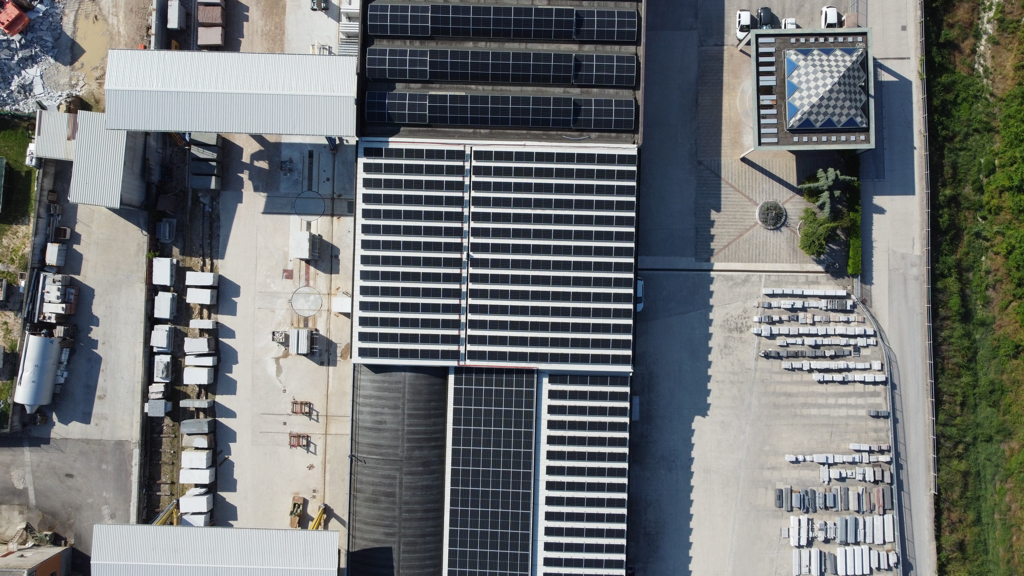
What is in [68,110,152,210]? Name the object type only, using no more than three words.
shed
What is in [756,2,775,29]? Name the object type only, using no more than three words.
car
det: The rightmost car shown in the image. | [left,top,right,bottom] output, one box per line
[822,3,841,28]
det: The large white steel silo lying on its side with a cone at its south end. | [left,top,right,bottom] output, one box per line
[14,334,64,412]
